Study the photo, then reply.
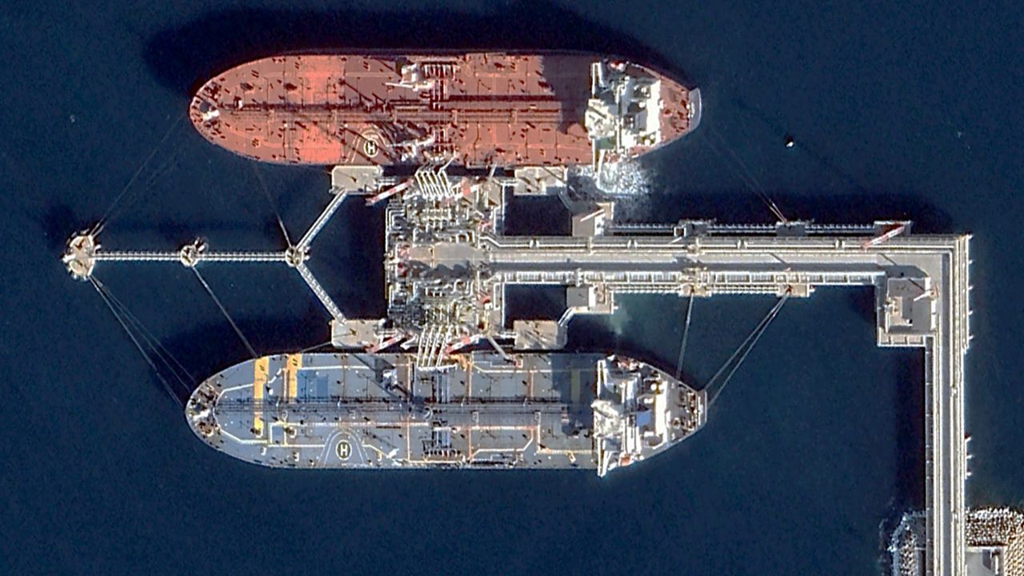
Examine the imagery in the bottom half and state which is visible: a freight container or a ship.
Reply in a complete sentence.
Visible in the bottom half is a ship.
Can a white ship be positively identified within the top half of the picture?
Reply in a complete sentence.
No, looking within the top half of the picture, there is no white ship.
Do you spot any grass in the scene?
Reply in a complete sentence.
No, the scene doesn't show any grass.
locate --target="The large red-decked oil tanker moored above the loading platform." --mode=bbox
[189,47,703,176]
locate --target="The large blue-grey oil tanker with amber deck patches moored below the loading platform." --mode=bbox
[185,349,708,478]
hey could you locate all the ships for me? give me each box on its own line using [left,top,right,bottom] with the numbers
[185,349,708,478]
[189,47,703,176]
